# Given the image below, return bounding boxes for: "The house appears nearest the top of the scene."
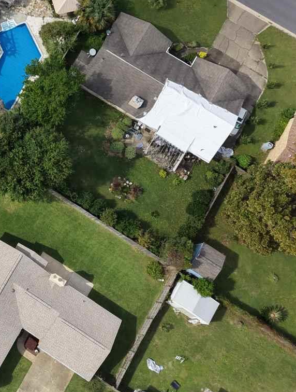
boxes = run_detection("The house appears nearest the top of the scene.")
[78,12,264,146]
